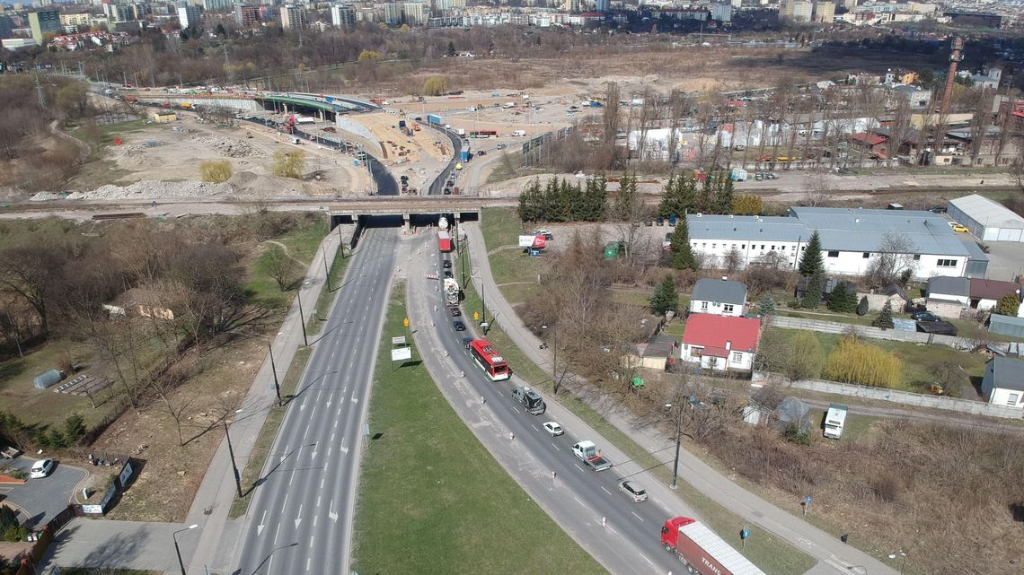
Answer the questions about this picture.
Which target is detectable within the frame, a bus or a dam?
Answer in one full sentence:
It is a bus that can be seen here.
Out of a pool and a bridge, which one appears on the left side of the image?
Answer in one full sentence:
What appears on the left side of the image is a bridge.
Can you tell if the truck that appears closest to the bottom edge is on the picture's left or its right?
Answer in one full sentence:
The truck that appears closest to the bottom edge appears in the right half of the scene.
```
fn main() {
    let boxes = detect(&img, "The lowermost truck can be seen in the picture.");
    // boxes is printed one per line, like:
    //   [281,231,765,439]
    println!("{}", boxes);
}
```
[659,509,768,575]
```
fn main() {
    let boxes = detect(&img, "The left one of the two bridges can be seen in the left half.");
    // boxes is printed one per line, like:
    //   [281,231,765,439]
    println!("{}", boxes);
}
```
[254,90,382,122]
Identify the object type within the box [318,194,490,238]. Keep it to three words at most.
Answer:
bridge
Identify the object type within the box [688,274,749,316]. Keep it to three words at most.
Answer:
house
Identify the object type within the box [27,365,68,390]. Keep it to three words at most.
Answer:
greenhouse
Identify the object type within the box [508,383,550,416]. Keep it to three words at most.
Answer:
truck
